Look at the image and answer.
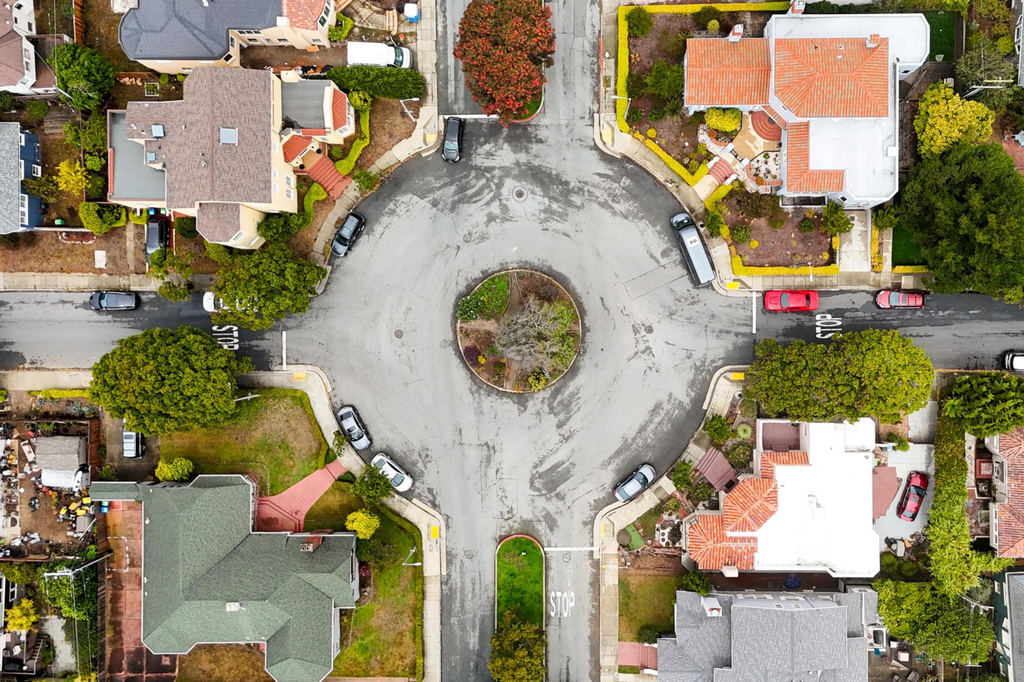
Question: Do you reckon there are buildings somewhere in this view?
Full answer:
Yes, the frame does contain a building.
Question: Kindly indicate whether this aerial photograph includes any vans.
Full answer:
Yes, a van can be made out from above.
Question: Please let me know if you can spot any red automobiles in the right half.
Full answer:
Yes, a red automobile appears in the right half.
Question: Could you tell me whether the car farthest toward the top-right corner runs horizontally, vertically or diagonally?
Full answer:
The car farthest toward the top-right corner is oriented horizontally.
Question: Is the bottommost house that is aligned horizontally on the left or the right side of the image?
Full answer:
It is on the right.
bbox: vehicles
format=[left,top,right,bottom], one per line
[144,214,173,265]
[336,403,373,451]
[611,460,658,504]
[370,448,415,493]
[761,288,817,313]
[203,289,236,314]
[91,288,143,313]
[872,287,924,312]
[119,424,149,466]
[997,350,1024,371]
[665,212,718,287]
[892,468,928,523]
[440,113,467,163]
[345,34,414,74]
[331,208,369,258]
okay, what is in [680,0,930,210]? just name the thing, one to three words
house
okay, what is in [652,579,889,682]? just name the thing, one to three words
house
